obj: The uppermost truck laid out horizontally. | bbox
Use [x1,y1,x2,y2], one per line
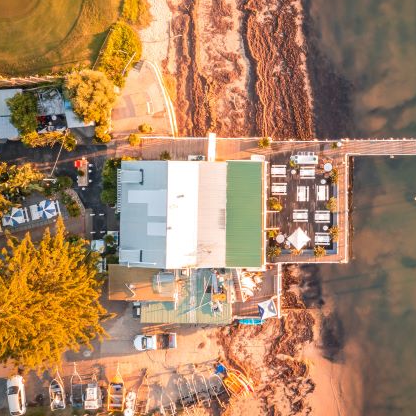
[137,331,182,353]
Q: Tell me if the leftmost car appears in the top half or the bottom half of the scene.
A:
bottom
